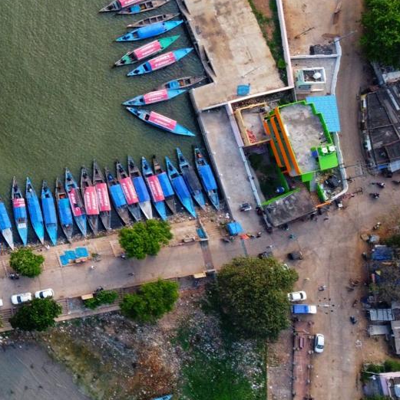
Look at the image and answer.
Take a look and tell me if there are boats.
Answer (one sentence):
Yes, the photo shows a boat.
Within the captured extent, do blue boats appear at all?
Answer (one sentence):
Yes, there's a blue boat down there.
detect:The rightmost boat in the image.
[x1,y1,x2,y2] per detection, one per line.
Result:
[194,148,220,211]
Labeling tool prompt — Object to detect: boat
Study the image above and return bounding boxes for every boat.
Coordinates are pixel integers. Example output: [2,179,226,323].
[113,36,180,66]
[56,178,73,242]
[121,88,189,105]
[162,77,207,91]
[99,0,144,13]
[128,156,152,220]
[65,167,87,238]
[11,178,26,248]
[93,159,111,232]
[80,166,99,237]
[25,178,45,245]
[154,156,177,214]
[142,157,166,221]
[116,0,170,15]
[126,14,180,28]
[40,181,57,245]
[175,148,206,211]
[105,167,128,225]
[126,107,197,136]
[127,48,194,76]
[0,198,14,250]
[194,148,220,211]
[165,156,196,217]
[115,19,185,41]
[116,160,140,220]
